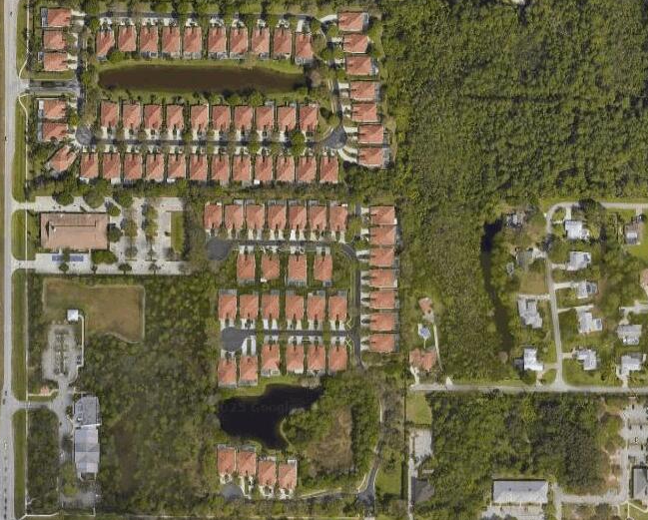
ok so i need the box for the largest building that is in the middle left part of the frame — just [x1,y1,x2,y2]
[40,213,107,251]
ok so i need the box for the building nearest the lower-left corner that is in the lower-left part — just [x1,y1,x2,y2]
[73,426,99,479]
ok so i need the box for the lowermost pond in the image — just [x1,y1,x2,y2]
[220,384,324,449]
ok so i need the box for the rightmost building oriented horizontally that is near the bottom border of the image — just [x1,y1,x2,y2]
[495,480,549,502]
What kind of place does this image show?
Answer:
residential area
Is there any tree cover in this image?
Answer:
Yes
